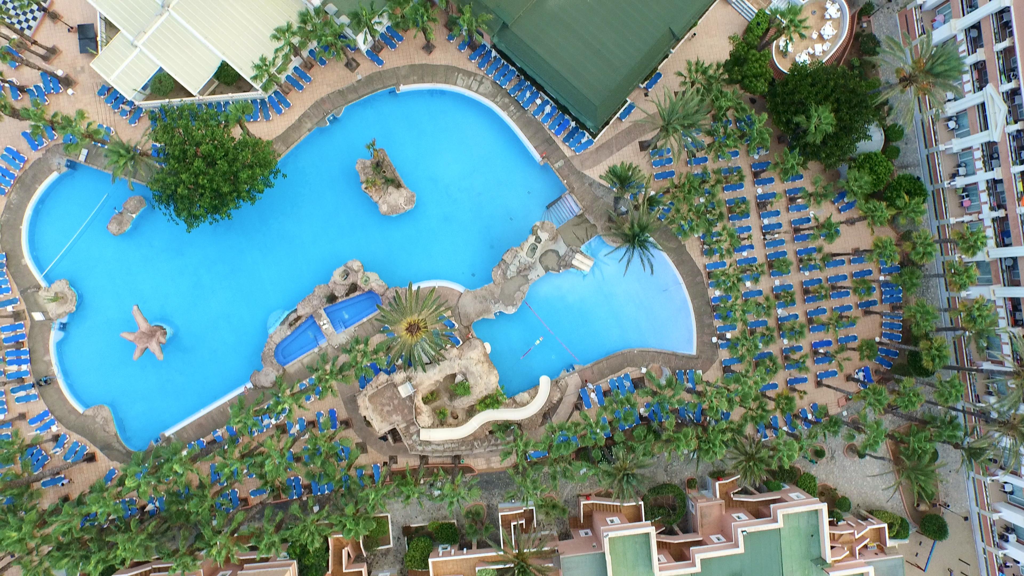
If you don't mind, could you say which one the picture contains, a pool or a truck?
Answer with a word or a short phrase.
pool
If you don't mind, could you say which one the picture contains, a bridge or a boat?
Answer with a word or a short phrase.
bridge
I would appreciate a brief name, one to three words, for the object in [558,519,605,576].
building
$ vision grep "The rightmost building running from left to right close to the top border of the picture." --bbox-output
[447,0,721,133]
